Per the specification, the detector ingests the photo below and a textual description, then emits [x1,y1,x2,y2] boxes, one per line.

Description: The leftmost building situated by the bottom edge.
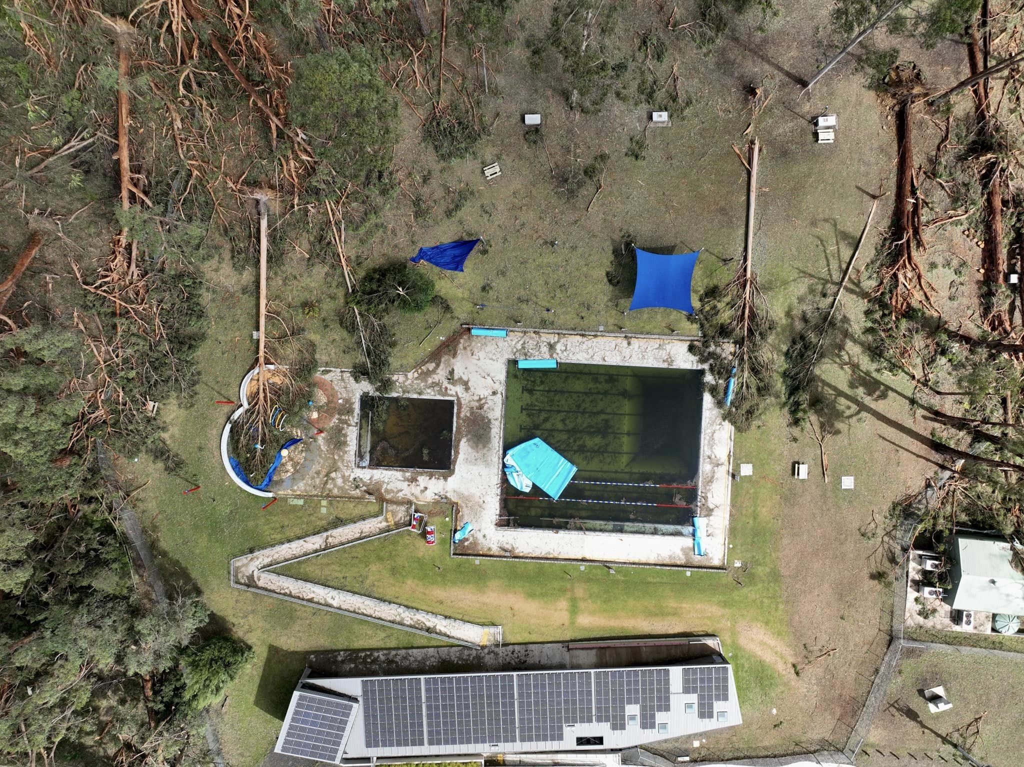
[273,655,743,767]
